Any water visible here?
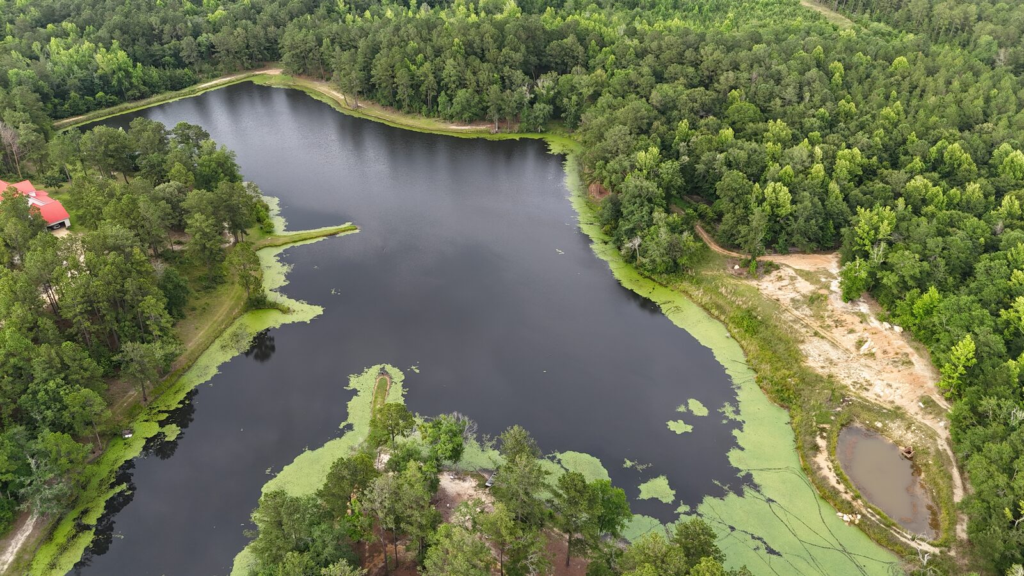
Yes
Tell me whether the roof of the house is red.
Yes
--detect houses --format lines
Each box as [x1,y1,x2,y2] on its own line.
[0,179,70,232]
